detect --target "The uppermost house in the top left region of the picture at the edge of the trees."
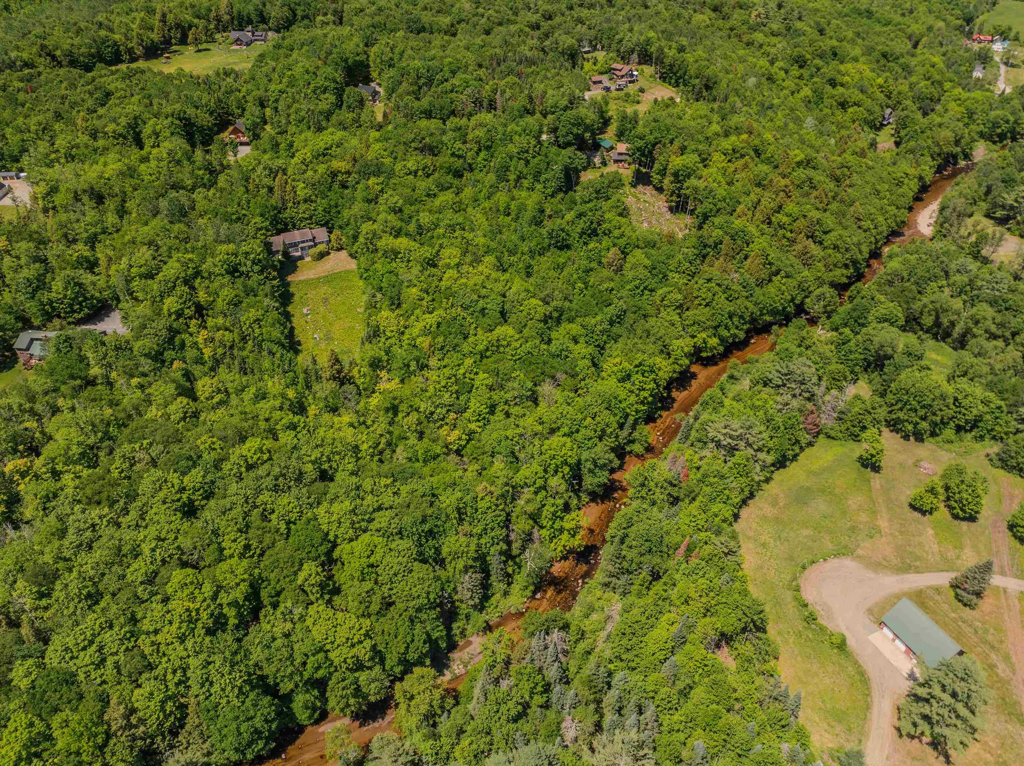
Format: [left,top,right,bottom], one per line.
[226,19,271,50]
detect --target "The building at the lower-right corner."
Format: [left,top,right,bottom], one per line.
[880,598,970,678]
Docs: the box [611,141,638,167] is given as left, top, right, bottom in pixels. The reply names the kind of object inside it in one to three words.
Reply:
building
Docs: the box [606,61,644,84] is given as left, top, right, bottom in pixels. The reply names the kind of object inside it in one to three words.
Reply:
house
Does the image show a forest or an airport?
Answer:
forest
